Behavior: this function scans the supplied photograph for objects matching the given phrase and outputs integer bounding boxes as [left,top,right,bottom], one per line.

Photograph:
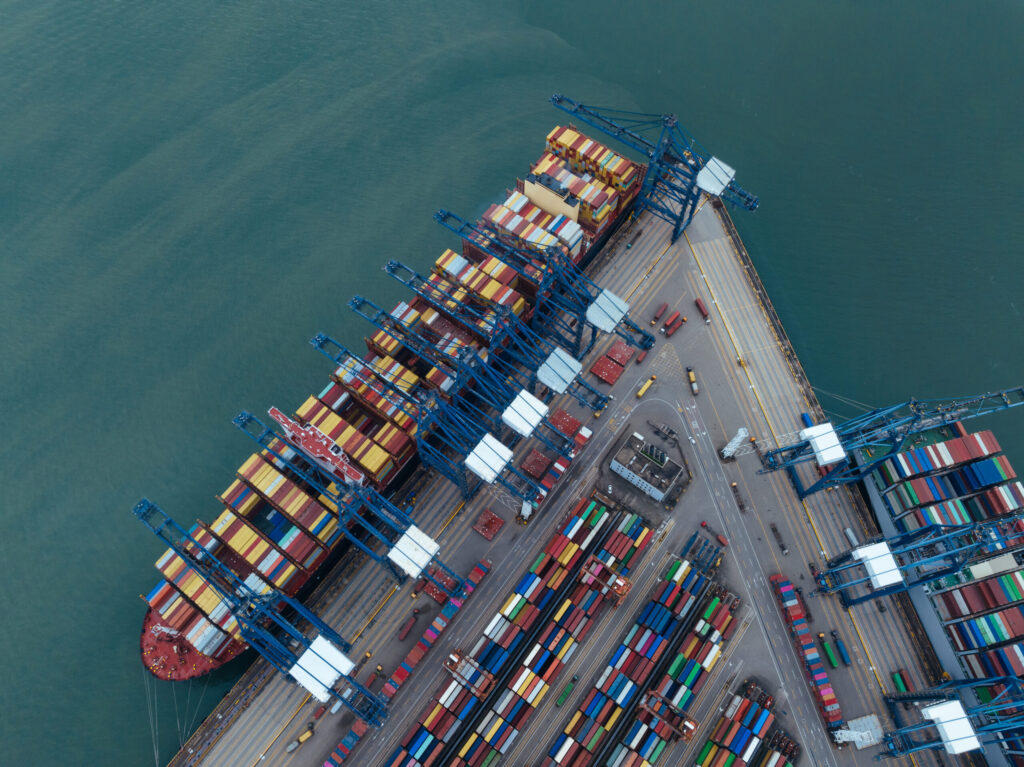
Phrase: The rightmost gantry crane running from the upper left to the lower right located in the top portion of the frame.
[547,92,759,243]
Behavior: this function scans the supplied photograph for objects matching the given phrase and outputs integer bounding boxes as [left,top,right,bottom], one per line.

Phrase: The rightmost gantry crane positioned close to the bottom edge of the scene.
[881,670,1024,757]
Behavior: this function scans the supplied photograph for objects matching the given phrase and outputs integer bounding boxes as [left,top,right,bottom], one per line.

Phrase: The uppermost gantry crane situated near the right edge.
[763,387,1024,503]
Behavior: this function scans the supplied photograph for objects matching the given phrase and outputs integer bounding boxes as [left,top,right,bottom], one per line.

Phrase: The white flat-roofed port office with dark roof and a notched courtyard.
[610,429,684,501]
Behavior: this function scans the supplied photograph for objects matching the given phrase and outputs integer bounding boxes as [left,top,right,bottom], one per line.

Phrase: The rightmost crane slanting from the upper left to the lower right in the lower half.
[632,686,699,746]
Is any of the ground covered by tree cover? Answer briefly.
No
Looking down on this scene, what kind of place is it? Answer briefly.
port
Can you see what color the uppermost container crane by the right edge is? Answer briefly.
blue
